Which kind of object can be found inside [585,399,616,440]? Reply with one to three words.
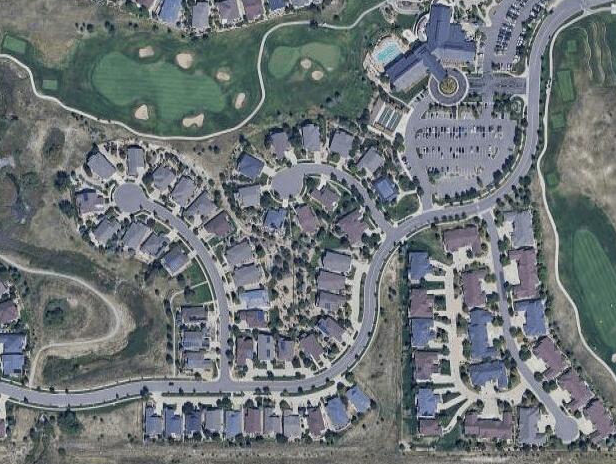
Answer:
house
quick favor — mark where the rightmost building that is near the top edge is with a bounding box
[383,0,477,91]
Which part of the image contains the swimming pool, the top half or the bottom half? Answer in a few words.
top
